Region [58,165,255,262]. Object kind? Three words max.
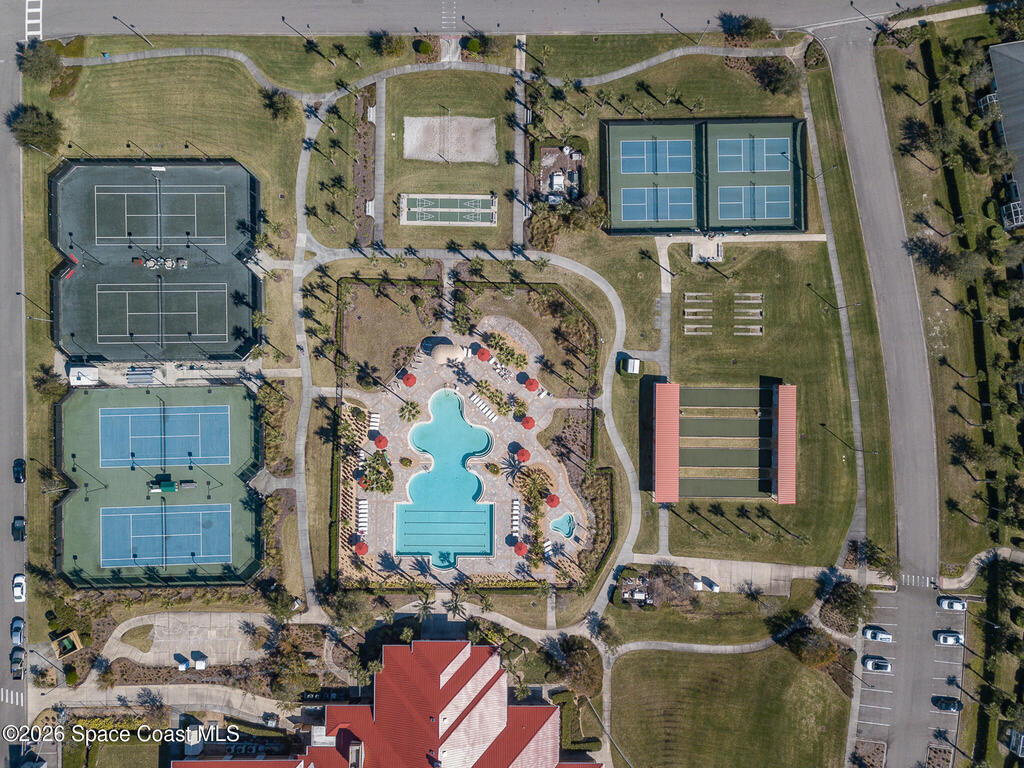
tennis court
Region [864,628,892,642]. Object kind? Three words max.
car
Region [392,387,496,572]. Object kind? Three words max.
swimming pool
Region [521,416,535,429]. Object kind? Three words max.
umbrella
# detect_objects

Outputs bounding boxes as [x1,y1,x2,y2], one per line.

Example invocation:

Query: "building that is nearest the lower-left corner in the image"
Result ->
[51,628,88,658]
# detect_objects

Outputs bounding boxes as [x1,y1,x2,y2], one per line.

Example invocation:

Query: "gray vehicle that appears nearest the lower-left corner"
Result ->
[10,647,26,678]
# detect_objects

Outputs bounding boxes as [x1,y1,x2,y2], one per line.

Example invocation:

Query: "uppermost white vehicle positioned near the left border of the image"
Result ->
[12,575,28,600]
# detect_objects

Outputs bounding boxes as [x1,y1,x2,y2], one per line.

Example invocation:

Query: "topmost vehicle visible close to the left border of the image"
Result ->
[11,459,27,483]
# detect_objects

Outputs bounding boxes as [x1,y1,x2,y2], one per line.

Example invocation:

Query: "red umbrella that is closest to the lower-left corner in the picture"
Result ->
[355,541,368,554]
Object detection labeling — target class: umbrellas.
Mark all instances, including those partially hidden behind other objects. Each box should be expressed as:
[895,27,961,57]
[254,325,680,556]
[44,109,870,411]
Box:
[357,476,370,489]
[525,378,538,391]
[546,493,560,507]
[355,541,368,554]
[375,436,388,448]
[521,416,535,429]
[403,373,417,386]
[514,542,527,556]
[517,449,530,462]
[477,348,491,361]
